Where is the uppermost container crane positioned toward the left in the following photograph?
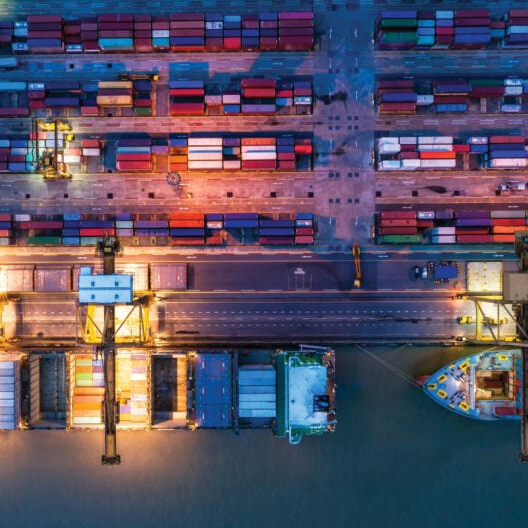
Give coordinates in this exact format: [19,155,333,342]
[32,116,74,177]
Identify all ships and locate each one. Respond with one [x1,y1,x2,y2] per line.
[416,349,521,422]
[0,345,336,444]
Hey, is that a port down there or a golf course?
port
